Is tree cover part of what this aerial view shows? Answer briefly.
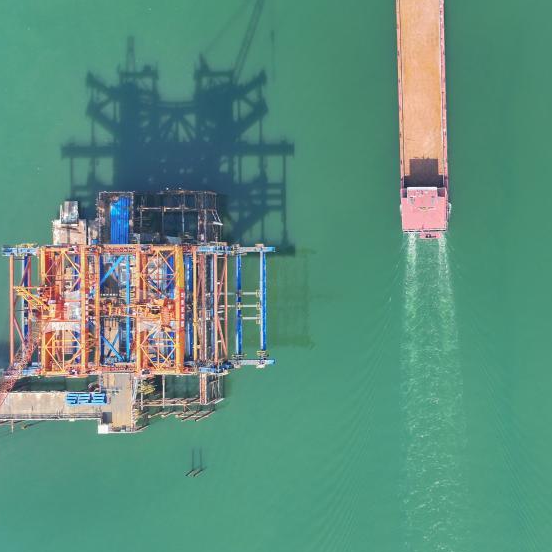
No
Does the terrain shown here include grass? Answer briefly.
No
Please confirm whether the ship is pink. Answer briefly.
Yes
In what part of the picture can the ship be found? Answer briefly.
top right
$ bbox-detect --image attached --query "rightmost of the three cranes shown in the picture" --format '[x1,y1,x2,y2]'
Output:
[118,243,200,376]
